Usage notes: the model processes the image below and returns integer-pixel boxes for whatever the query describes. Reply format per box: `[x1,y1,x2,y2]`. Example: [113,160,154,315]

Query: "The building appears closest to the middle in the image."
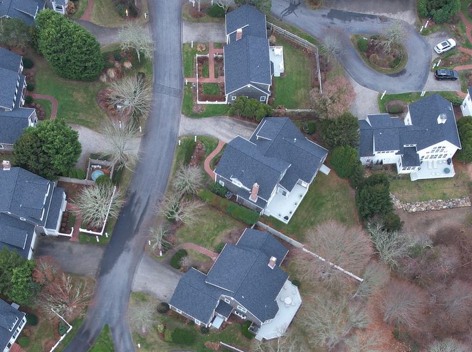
[214,116,329,225]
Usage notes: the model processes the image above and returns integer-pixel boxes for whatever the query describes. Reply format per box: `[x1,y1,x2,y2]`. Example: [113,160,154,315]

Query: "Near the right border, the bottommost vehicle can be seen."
[432,67,460,81]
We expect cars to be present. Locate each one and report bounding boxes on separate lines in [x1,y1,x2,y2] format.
[432,38,458,55]
[432,67,460,81]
